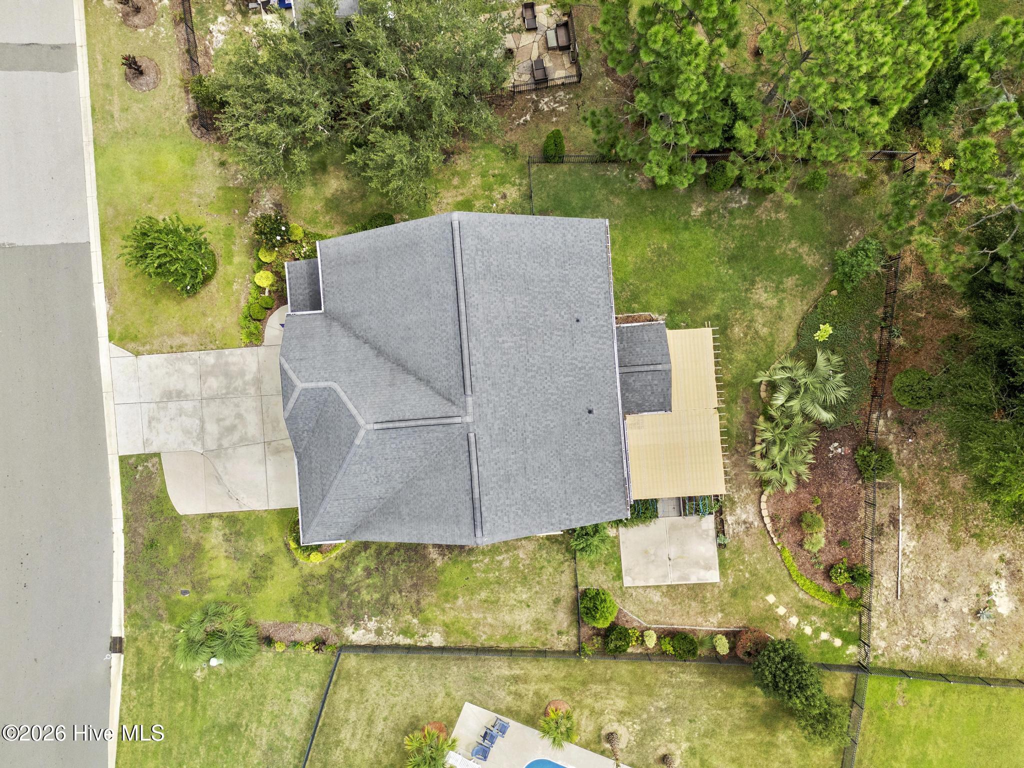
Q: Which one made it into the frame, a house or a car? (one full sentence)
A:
The image shows a house.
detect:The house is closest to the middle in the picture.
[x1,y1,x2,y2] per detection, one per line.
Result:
[278,212,672,548]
